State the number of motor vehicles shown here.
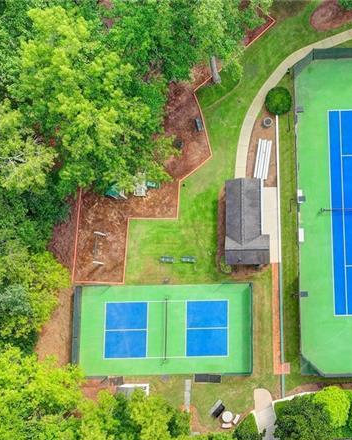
0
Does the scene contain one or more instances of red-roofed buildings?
No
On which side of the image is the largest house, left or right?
right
